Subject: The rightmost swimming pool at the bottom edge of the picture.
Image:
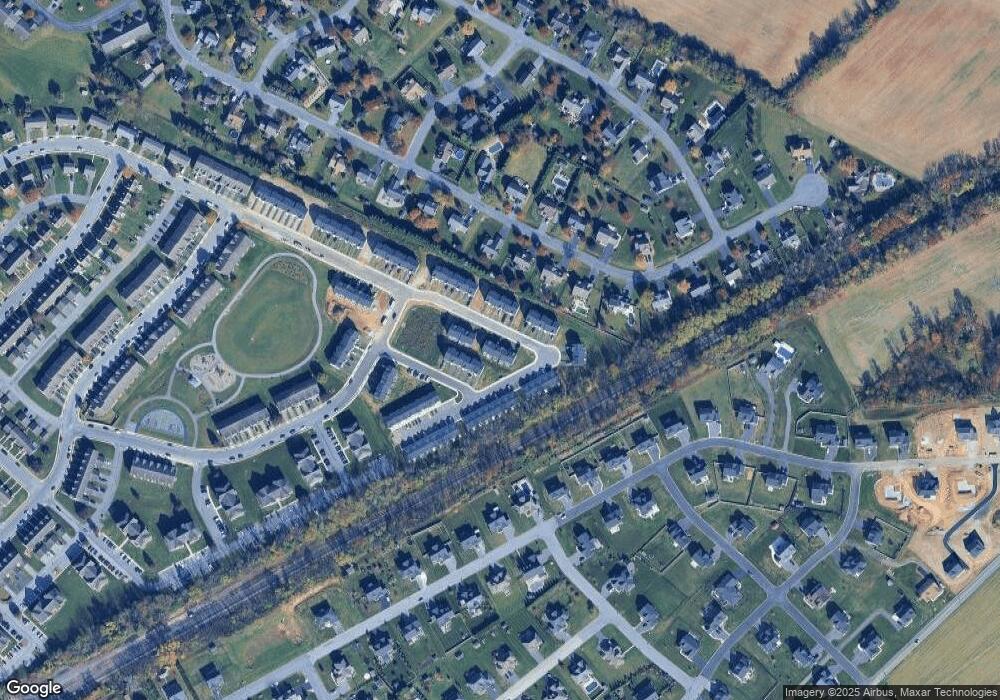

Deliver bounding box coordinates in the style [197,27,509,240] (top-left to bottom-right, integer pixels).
[583,678,602,695]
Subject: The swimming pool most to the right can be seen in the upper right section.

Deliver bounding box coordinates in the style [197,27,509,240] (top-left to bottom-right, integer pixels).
[874,174,894,190]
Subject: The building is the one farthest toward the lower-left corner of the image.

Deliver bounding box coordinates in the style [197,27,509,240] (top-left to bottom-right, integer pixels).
[28,587,70,624]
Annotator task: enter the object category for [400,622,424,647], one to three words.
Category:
house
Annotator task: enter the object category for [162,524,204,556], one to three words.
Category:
building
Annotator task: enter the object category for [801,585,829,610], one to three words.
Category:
house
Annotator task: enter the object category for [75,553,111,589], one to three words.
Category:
building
